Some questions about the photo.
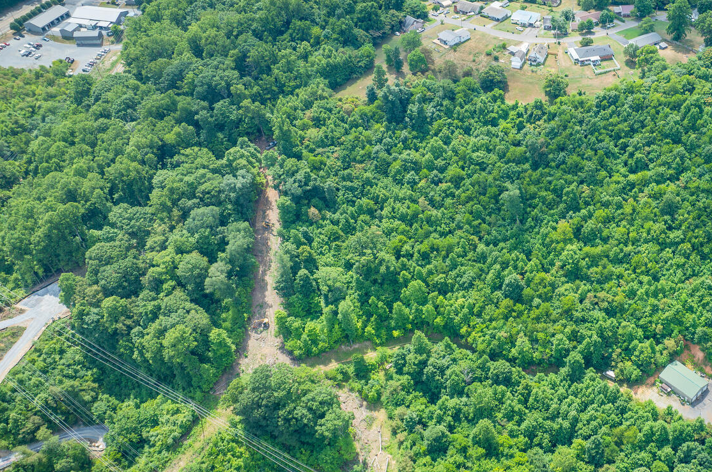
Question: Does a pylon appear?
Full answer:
Yes, a pylon can be made out from above.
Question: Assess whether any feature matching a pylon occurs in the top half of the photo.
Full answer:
No, looking in the top half of the photo, there is no pylon.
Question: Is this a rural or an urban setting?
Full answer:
From above, the setting appears rural.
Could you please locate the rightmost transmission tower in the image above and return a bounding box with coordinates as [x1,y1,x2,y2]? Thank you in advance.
[182,393,209,432]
